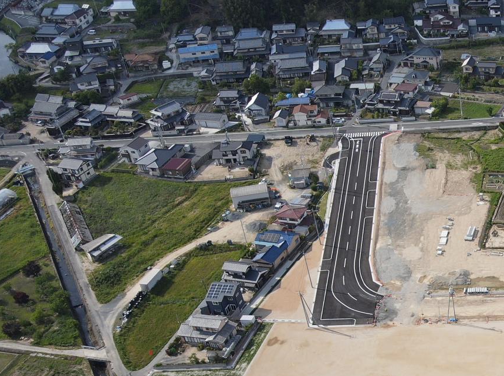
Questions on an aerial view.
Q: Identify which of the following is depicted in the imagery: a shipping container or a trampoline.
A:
shipping container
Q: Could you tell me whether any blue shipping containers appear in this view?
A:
No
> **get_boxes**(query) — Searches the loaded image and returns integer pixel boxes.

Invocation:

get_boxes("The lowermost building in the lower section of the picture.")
[171,309,252,353]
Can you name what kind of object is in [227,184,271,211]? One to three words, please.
building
